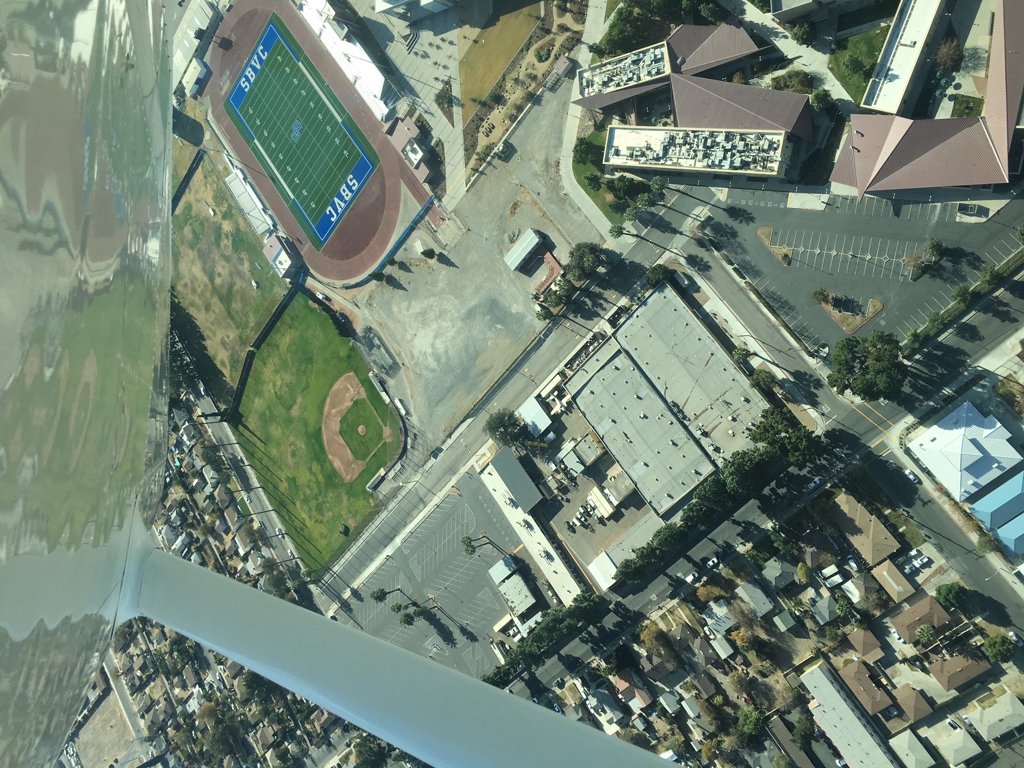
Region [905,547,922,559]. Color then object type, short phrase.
white vehicle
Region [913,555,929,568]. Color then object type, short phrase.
white vehicle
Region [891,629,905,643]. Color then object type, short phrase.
white car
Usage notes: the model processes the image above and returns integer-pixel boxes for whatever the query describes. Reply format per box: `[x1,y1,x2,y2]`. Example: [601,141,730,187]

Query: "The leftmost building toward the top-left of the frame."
[182,57,208,94]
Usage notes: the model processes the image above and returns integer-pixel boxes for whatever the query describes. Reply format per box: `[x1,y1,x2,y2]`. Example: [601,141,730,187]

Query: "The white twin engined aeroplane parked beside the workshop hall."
[546,393,568,414]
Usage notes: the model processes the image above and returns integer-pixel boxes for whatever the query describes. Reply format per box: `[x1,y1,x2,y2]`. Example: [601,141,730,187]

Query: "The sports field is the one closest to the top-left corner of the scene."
[223,12,381,252]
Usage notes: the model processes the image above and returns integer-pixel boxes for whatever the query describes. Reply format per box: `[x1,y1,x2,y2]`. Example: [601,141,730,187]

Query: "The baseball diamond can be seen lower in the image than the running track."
[218,295,402,577]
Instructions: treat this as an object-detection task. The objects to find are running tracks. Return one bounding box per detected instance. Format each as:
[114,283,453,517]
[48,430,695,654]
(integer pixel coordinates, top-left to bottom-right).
[208,0,448,277]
